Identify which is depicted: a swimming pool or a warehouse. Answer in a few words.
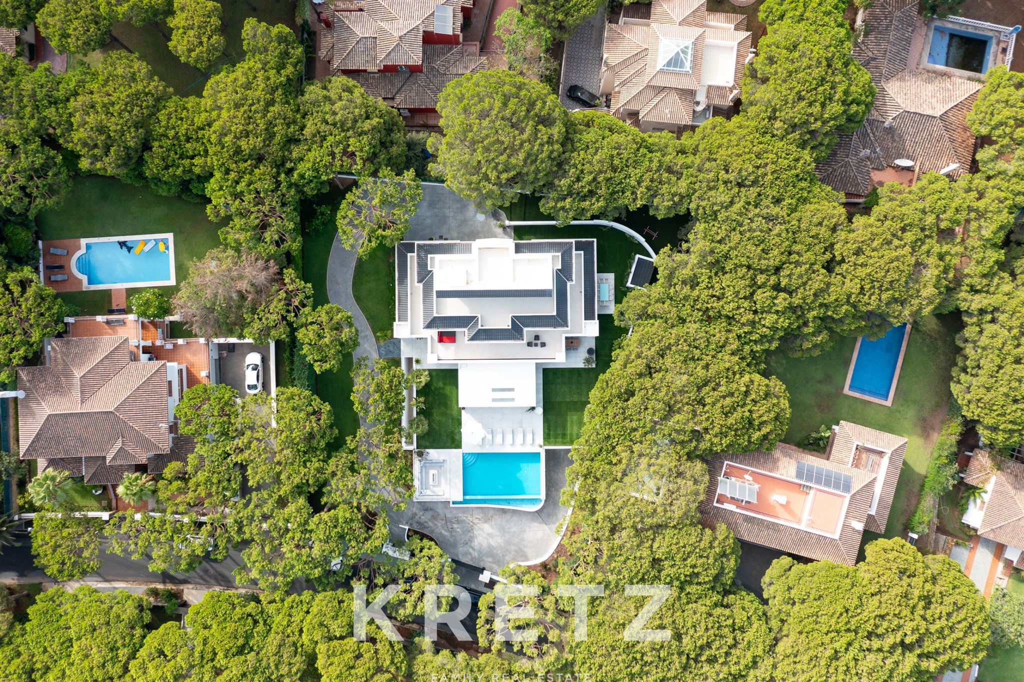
swimming pool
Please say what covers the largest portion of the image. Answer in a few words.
trees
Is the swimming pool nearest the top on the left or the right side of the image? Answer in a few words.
right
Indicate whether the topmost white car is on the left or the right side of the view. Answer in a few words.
left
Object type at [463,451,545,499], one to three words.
swimming pool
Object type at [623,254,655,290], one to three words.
shed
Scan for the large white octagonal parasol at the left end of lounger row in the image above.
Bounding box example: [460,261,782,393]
[462,419,491,447]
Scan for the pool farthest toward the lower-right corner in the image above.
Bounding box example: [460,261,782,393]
[843,309,913,407]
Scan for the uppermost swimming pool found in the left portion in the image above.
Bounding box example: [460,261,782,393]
[71,233,175,290]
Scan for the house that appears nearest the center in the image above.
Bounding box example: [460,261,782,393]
[394,238,599,407]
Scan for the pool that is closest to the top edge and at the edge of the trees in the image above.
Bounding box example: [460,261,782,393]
[919,22,1001,77]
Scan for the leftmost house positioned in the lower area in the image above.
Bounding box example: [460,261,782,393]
[1,335,208,485]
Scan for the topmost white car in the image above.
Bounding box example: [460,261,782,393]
[242,352,264,393]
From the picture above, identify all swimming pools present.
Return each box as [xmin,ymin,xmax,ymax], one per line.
[843,309,913,407]
[463,451,545,499]
[919,22,1001,77]
[71,233,175,290]
[450,499,545,512]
